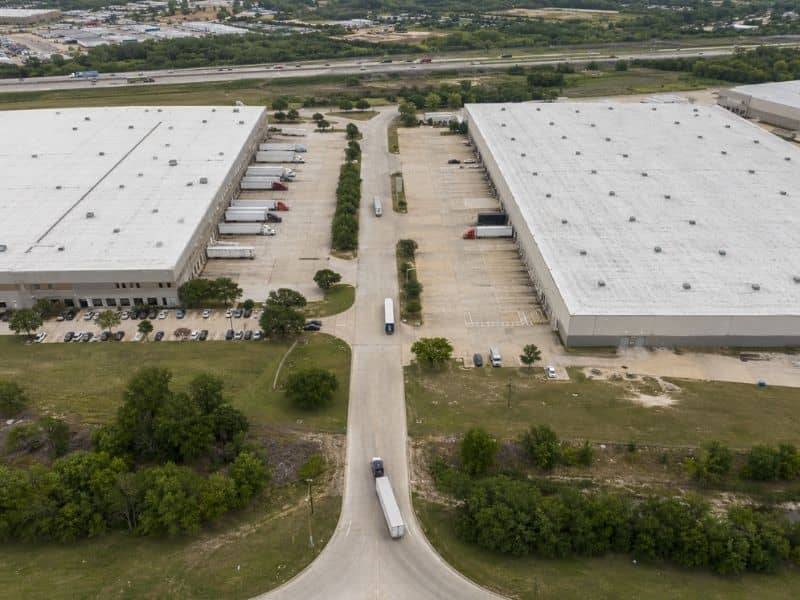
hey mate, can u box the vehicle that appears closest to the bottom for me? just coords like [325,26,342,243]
[375,462,404,539]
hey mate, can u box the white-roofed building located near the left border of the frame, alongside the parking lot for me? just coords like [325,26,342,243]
[0,105,269,310]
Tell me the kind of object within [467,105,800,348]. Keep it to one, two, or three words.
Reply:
warehouse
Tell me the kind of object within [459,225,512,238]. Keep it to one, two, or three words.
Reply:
vehicle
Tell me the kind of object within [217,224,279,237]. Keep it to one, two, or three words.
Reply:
vehicle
